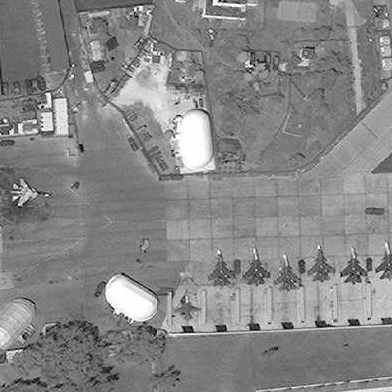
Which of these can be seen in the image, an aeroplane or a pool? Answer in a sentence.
Visible in the photo is an aeroplane.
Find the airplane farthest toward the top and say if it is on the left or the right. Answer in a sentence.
You can find the airplane farthest toward the top on the left side of the picture.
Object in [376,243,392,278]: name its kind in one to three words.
airplane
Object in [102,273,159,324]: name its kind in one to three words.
hangar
